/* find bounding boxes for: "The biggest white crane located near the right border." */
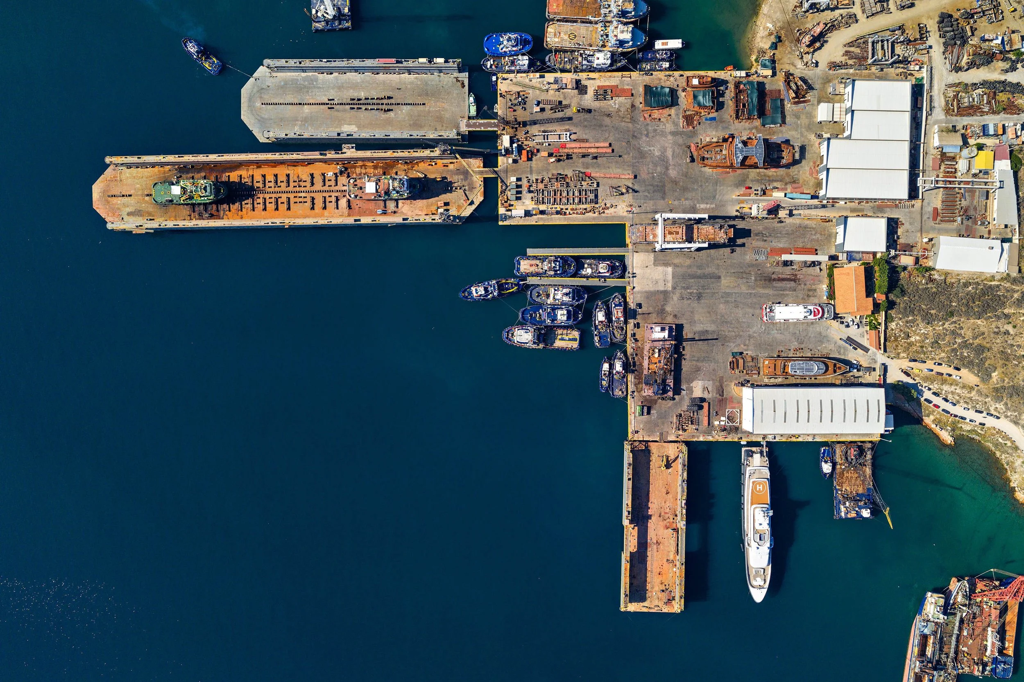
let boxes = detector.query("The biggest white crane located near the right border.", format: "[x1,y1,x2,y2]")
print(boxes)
[916,177,1005,194]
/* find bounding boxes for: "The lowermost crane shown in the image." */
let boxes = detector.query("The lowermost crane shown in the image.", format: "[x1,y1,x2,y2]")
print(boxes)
[965,569,1024,624]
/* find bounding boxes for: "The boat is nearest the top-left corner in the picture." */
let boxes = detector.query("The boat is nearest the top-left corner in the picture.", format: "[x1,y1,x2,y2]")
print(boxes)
[182,37,224,75]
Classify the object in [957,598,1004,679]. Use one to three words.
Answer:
ship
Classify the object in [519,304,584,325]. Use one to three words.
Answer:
boat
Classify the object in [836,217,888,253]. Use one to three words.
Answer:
building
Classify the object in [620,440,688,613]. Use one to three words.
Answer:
pier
